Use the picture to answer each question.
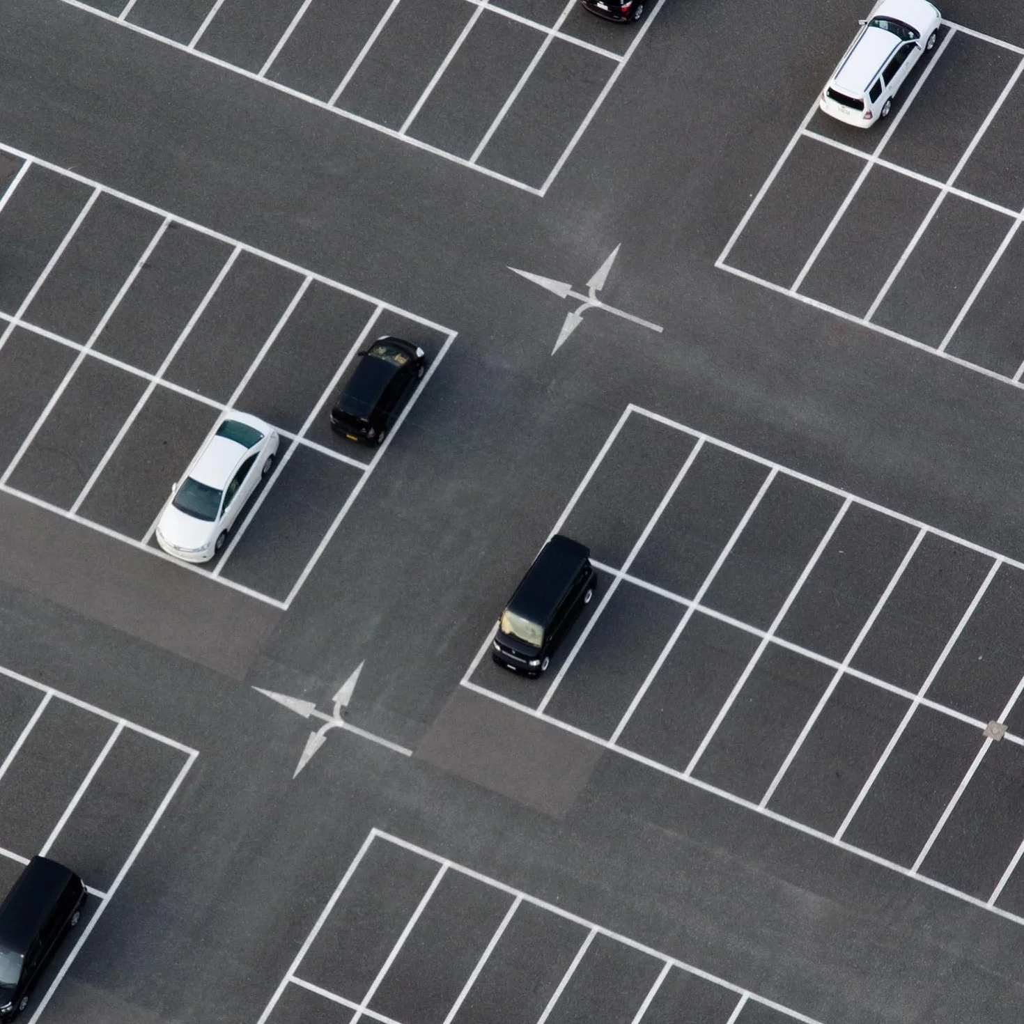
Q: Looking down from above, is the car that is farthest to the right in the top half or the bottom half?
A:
top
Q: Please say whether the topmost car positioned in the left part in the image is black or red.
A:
black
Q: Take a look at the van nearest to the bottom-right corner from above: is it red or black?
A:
black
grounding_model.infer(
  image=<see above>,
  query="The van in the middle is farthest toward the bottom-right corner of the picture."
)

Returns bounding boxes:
[492,533,599,680]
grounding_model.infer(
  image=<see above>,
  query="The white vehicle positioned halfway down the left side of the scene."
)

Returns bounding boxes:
[157,414,277,564]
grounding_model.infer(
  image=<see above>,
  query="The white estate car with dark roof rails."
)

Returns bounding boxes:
[822,0,936,130]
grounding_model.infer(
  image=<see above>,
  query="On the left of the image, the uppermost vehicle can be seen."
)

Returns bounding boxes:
[331,338,427,448]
